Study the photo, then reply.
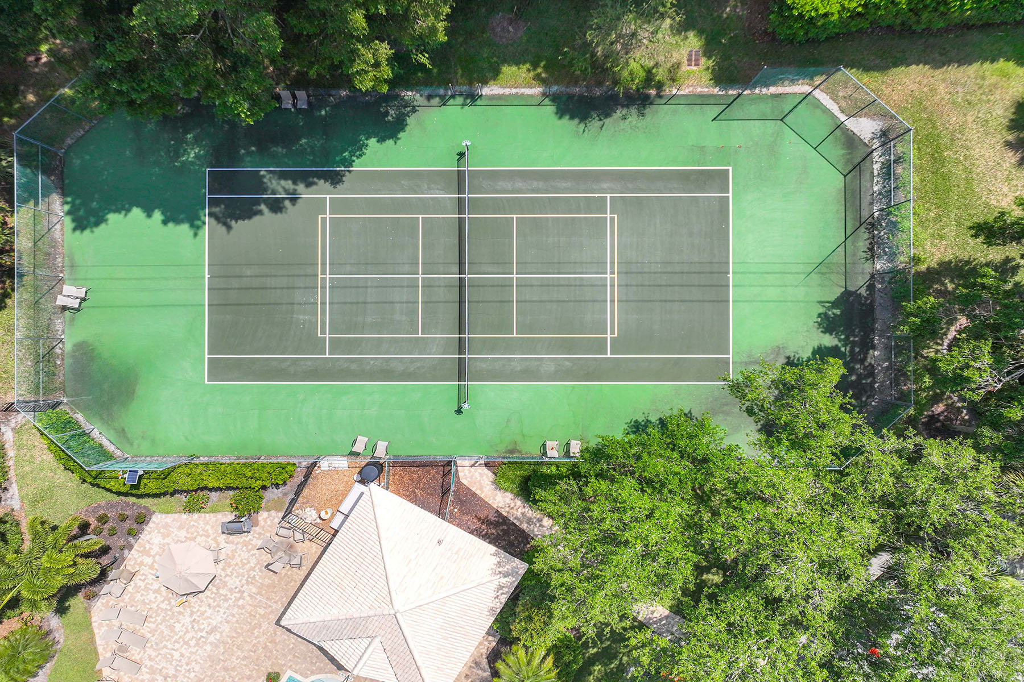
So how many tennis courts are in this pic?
1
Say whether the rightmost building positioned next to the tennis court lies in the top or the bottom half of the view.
bottom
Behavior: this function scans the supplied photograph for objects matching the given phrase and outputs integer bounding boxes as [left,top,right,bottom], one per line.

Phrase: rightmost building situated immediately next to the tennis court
[275,483,529,682]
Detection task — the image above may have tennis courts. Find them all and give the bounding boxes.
[64,93,875,457]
